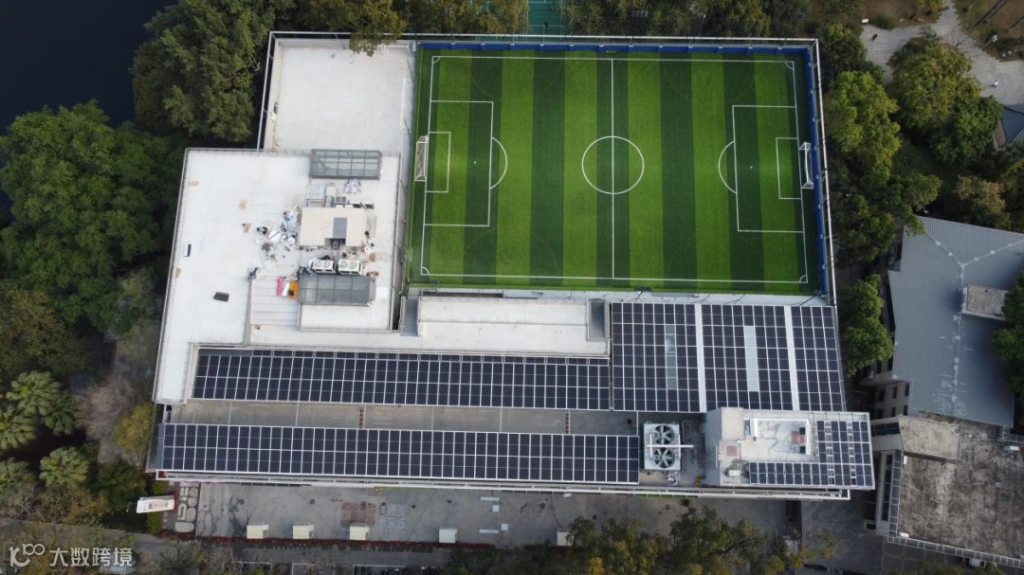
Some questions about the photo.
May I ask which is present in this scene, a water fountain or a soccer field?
soccer field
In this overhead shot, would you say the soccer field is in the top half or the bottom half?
top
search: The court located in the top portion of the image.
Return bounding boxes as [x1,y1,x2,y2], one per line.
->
[496,0,590,43]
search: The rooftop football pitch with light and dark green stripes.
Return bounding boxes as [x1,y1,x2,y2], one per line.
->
[403,50,818,294]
